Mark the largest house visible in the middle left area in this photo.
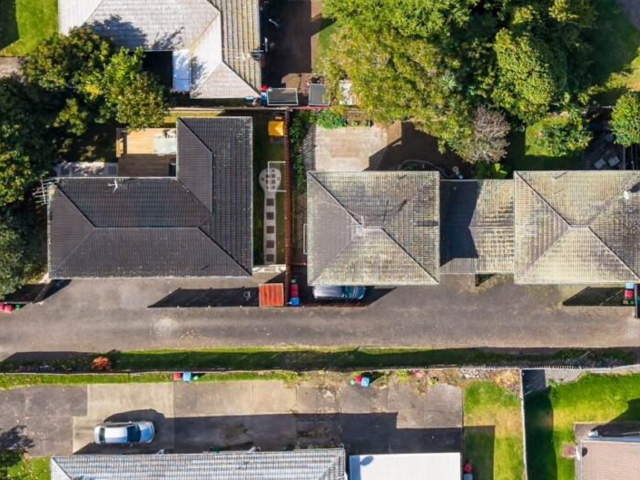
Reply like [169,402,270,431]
[46,115,255,281]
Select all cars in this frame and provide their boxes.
[311,288,368,304]
[89,421,154,450]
